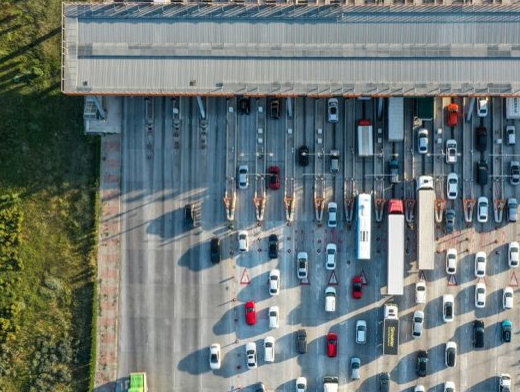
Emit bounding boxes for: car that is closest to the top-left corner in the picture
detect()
[238,94,250,115]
